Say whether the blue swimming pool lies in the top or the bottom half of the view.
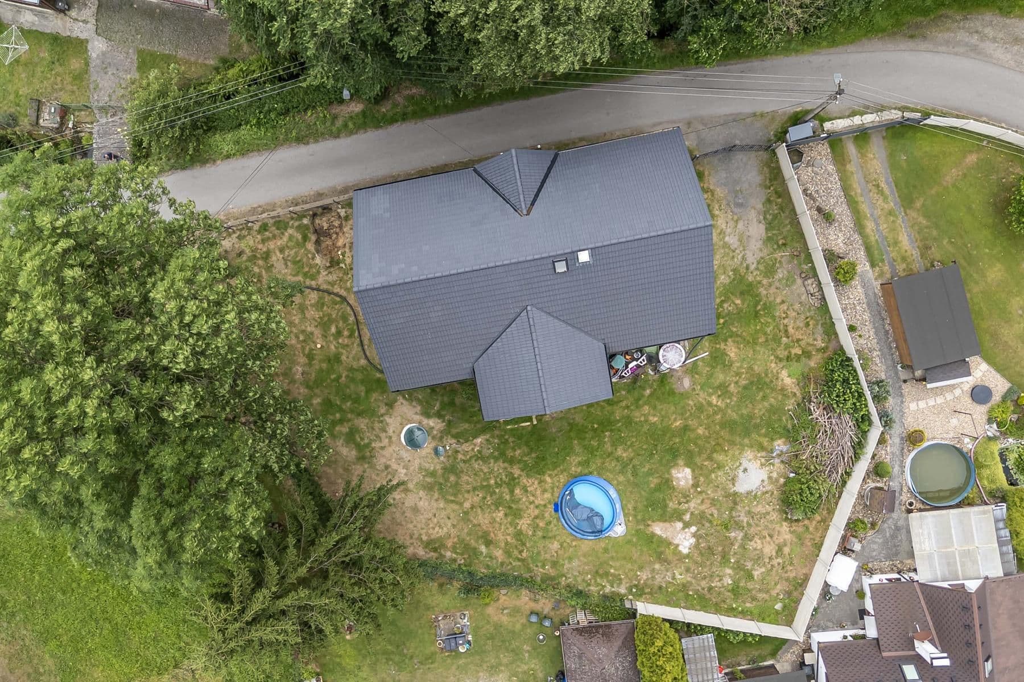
bottom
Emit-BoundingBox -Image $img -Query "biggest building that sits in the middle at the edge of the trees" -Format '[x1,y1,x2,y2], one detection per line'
[352,125,715,421]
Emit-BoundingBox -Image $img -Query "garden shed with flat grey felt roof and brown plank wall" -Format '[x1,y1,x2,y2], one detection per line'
[879,264,980,386]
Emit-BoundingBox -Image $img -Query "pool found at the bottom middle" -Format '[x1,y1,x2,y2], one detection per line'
[558,473,624,539]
